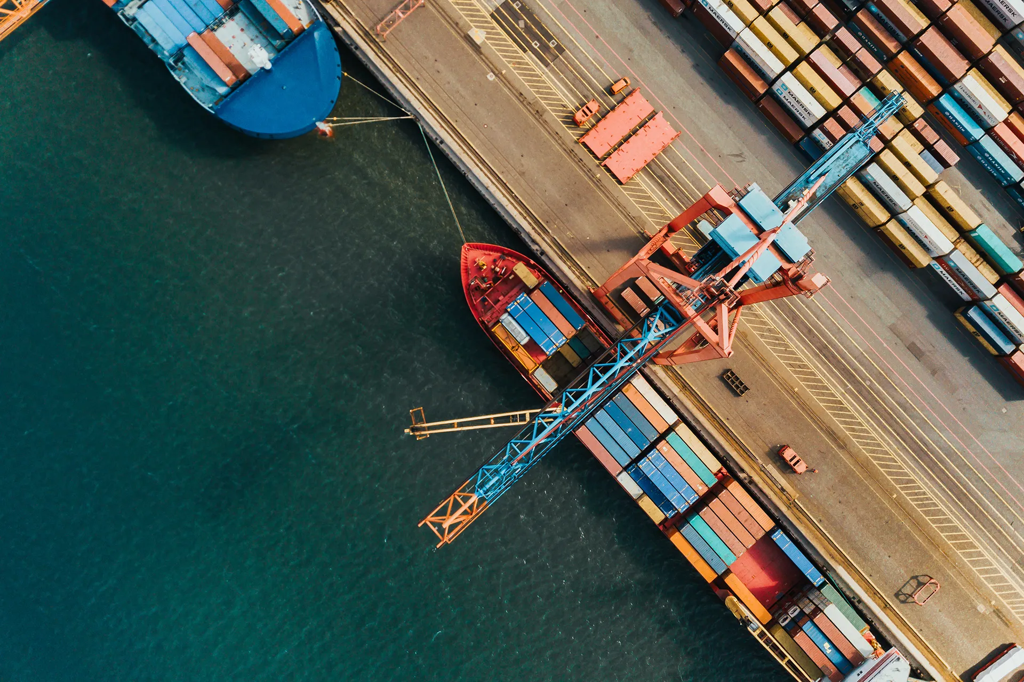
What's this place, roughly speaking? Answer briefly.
port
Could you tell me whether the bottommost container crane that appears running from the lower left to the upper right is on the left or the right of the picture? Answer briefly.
right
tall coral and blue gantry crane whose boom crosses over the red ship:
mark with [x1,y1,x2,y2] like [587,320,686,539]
[418,91,918,551]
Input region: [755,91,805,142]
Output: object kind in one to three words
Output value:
shipping container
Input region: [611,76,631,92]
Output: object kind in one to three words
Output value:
vehicle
